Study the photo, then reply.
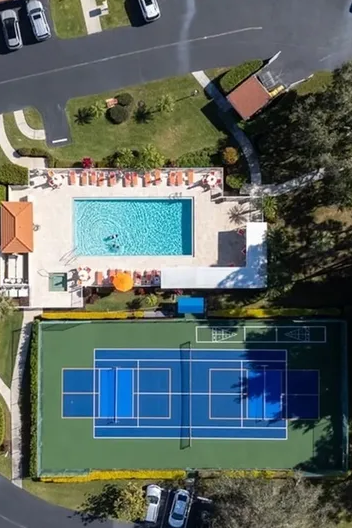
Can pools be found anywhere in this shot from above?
Yes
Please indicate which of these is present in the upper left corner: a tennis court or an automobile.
automobile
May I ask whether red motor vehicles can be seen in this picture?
No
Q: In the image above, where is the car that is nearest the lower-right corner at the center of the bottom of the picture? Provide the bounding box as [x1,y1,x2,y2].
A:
[169,486,190,527]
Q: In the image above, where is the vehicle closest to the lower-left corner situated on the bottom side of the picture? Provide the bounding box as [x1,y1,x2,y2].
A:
[143,481,162,525]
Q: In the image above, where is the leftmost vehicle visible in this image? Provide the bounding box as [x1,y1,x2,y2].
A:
[2,10,23,51]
